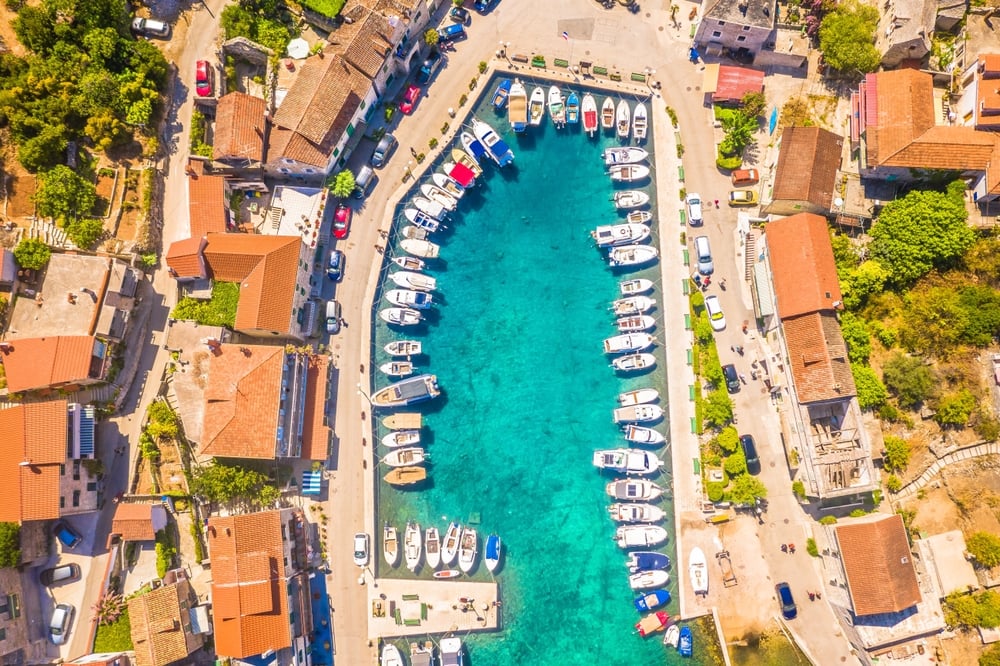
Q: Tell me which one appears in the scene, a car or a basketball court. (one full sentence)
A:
The one in the frame is a car.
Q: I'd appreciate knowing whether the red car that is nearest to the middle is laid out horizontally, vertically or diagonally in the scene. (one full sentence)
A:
Seen from above, the red car that is nearest to the middle lies vertically.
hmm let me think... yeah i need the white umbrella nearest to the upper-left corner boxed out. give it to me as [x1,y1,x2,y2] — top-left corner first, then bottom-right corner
[288,39,309,61]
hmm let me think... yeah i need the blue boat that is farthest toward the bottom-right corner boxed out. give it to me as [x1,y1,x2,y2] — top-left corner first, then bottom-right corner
[675,620,692,656]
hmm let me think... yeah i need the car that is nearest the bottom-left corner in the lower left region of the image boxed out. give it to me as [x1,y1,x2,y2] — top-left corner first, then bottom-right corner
[49,601,77,645]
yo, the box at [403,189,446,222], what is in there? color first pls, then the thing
white boat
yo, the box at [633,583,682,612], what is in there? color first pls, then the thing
blue boat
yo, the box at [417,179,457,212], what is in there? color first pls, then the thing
white boat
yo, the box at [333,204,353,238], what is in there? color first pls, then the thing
red car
